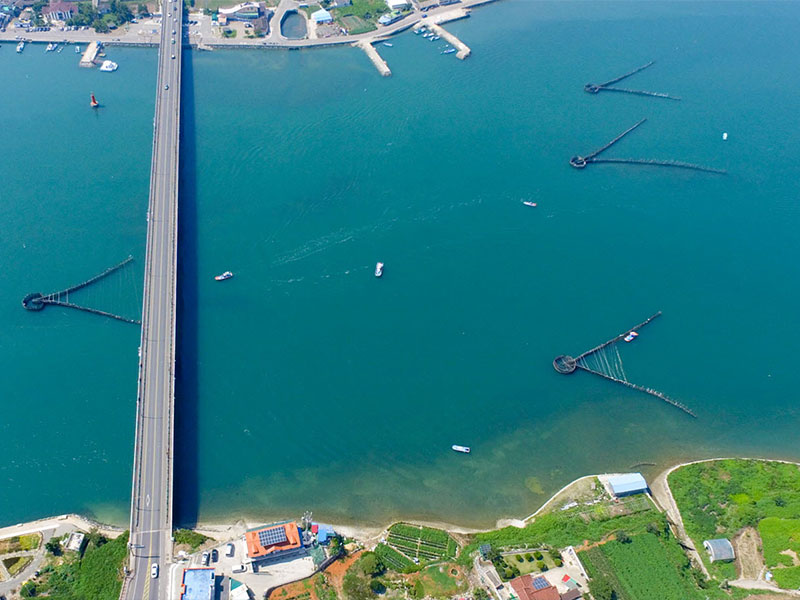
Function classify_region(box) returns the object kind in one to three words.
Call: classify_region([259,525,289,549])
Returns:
solar array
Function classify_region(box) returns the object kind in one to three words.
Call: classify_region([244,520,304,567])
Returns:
house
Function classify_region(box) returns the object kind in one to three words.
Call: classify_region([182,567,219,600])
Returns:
house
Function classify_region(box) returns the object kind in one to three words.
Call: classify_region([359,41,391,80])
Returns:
pier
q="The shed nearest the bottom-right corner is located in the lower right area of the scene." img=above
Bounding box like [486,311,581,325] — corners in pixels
[700,539,738,563]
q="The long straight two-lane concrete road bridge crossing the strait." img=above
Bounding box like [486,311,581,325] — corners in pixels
[129,0,184,541]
